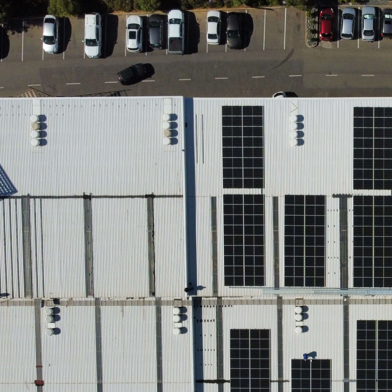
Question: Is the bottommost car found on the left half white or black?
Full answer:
The color of the bottommost car found on the left half is black.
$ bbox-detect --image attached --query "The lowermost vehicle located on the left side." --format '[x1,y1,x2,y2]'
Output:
[115,62,157,87]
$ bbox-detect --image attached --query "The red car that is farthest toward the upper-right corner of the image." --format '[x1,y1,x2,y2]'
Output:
[317,6,335,44]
